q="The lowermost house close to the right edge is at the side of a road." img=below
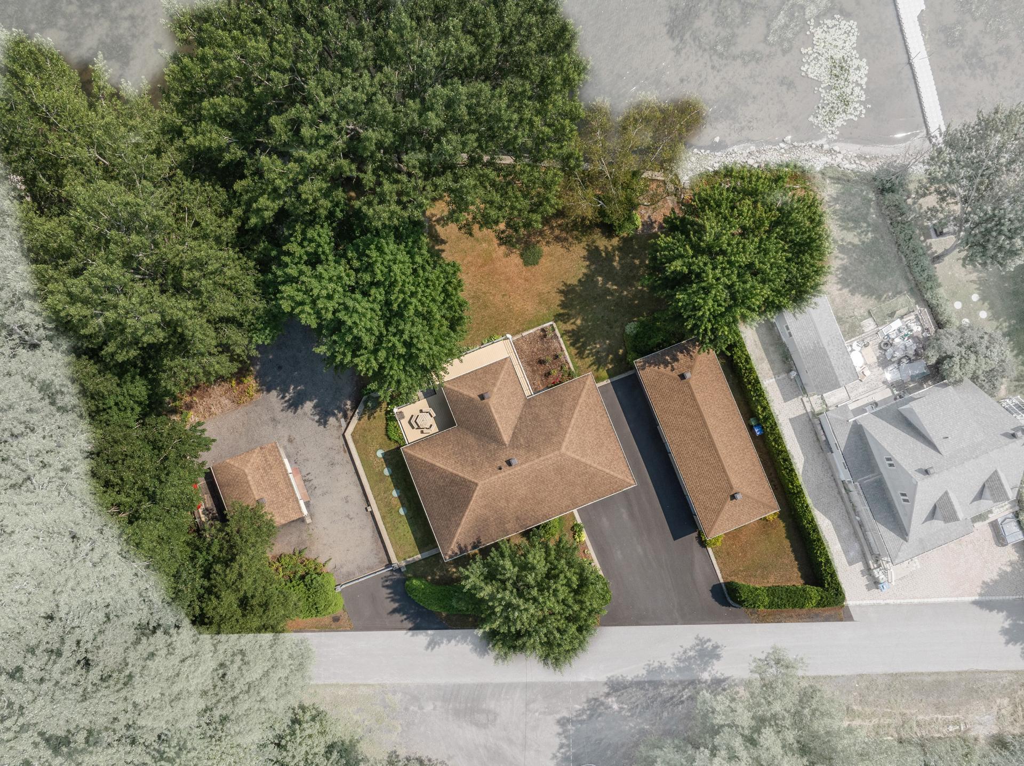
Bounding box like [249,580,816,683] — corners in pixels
[811,376,1024,566]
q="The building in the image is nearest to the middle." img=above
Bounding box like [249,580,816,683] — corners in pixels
[400,355,637,562]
